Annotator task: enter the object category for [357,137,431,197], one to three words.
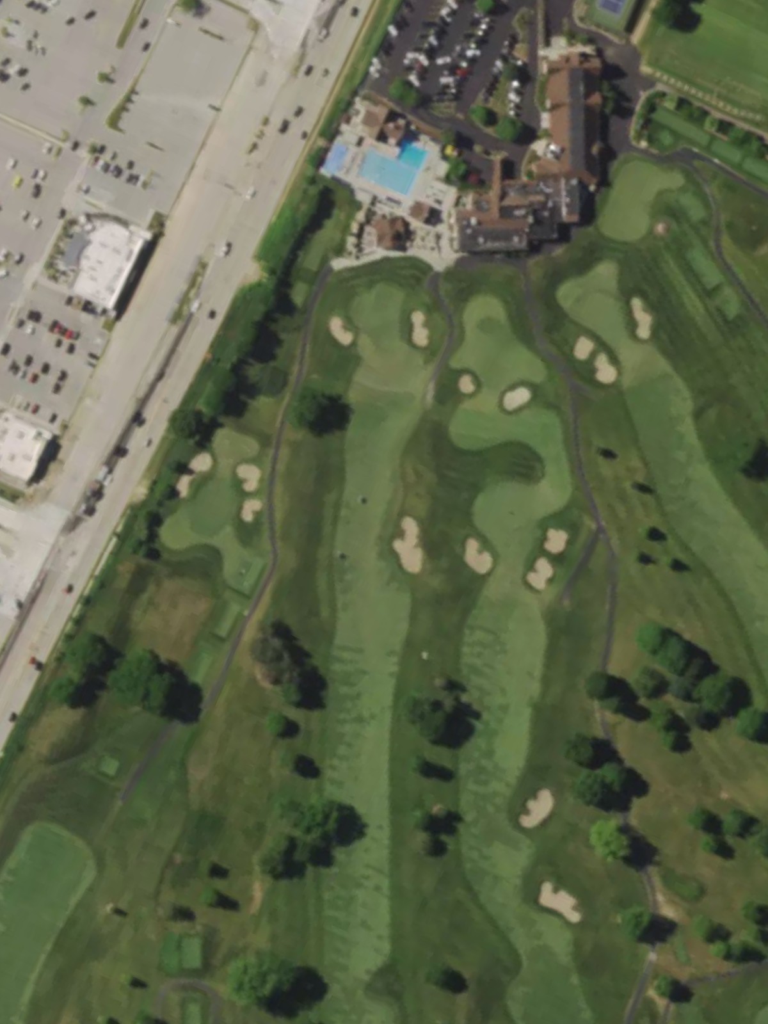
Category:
swimming pool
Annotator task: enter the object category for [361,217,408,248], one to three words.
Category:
building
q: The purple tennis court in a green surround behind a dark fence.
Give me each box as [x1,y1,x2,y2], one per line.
[575,0,642,39]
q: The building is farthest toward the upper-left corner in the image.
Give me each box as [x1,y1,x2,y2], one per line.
[63,213,152,316]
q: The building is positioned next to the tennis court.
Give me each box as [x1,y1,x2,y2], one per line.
[457,51,604,254]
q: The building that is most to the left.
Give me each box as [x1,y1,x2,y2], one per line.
[0,408,52,483]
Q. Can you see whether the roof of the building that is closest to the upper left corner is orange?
No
